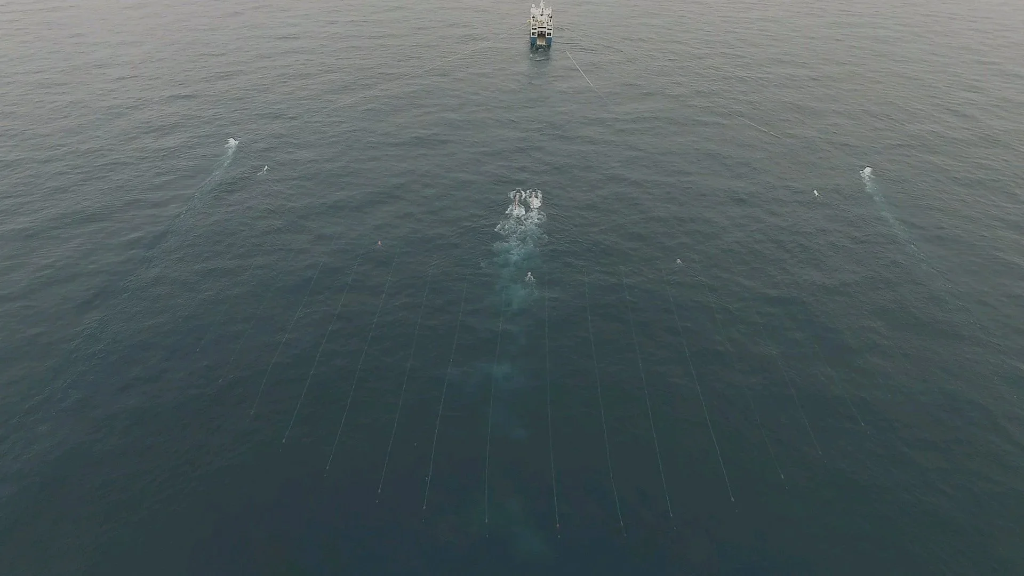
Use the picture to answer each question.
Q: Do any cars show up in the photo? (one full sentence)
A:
No, there is no car in the image.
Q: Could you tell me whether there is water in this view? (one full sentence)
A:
Yes, some water is visible.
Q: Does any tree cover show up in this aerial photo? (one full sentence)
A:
No, no tree cover is visible.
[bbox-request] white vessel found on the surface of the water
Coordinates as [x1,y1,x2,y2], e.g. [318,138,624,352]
[527,0,554,45]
